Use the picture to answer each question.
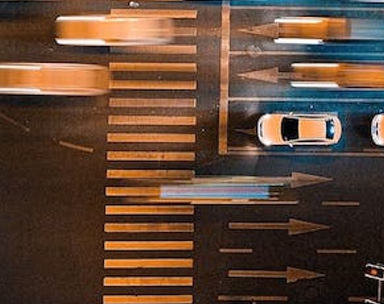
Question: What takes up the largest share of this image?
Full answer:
The largest share of the image is taken up by paved ground.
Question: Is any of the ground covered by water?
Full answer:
No, there is no water in the image.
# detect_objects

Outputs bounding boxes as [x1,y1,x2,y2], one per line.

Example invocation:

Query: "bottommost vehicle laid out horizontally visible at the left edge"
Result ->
[0,58,86,99]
